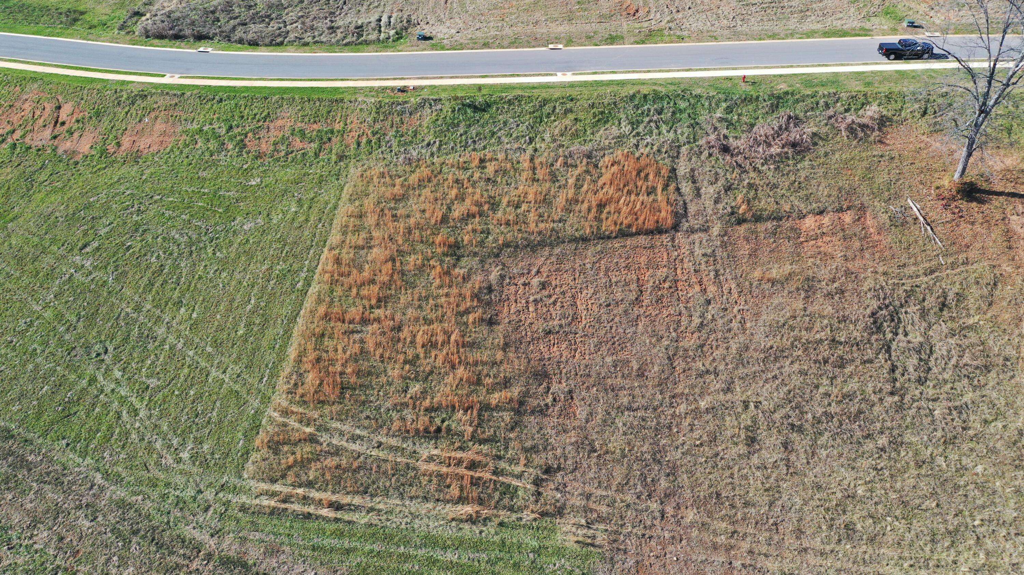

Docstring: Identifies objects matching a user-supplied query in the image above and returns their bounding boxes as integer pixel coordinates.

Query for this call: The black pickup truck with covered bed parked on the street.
[874,35,934,59]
